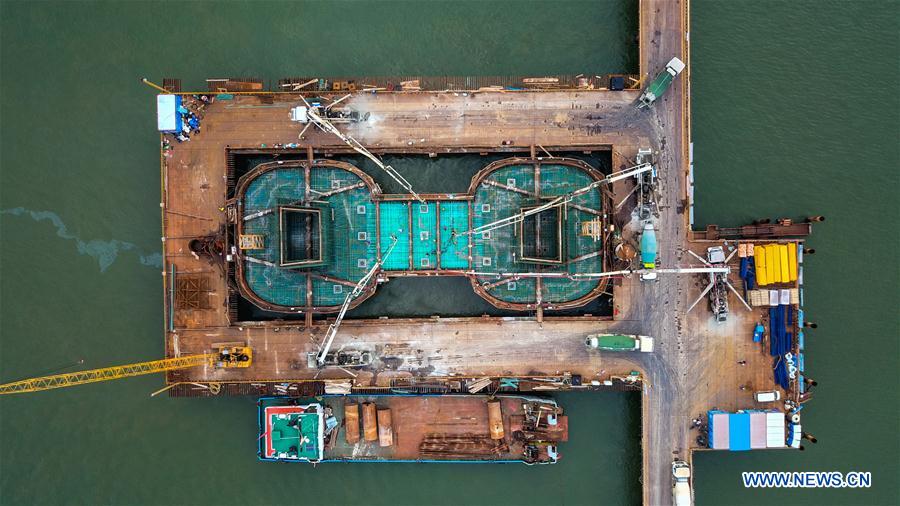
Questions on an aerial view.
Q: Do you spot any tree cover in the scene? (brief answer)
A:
No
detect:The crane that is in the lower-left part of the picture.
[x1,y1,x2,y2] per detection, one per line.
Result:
[0,343,255,396]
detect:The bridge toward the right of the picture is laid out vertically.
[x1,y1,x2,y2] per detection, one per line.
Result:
[631,0,696,506]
